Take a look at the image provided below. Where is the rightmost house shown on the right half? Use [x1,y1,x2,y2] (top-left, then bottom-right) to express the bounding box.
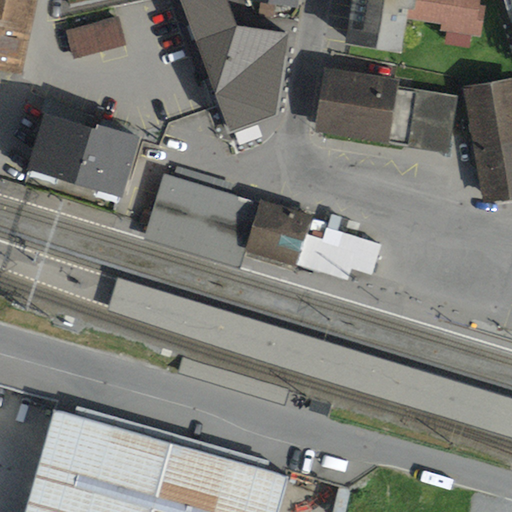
[464,80,512,200]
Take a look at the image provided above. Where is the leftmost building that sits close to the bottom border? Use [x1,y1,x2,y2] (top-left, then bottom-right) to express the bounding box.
[26,405,287,512]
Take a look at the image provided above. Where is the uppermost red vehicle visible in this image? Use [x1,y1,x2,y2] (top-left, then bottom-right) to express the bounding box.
[152,10,174,22]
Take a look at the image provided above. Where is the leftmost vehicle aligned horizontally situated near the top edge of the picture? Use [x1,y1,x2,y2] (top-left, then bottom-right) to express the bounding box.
[73,16,95,28]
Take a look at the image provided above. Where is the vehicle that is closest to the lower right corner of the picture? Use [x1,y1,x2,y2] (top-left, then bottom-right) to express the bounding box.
[414,468,455,489]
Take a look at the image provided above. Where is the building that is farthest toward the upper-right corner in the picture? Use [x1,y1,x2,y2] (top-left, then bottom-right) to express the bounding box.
[408,0,486,48]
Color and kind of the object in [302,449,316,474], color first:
white vehicle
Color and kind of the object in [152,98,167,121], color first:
black car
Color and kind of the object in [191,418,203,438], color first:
gray vehicle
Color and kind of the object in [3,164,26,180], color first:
gray car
